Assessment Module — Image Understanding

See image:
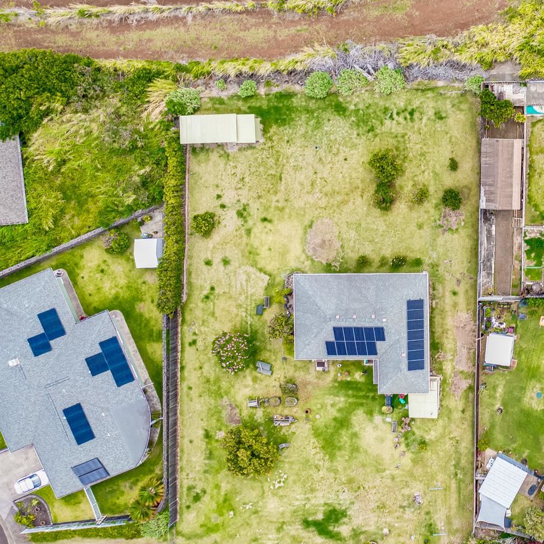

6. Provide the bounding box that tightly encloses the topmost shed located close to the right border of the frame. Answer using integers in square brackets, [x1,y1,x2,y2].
[480,137,522,210]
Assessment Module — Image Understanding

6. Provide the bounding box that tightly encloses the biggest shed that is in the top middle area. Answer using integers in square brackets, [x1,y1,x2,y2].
[180,113,263,147]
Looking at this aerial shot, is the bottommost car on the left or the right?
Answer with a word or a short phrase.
left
